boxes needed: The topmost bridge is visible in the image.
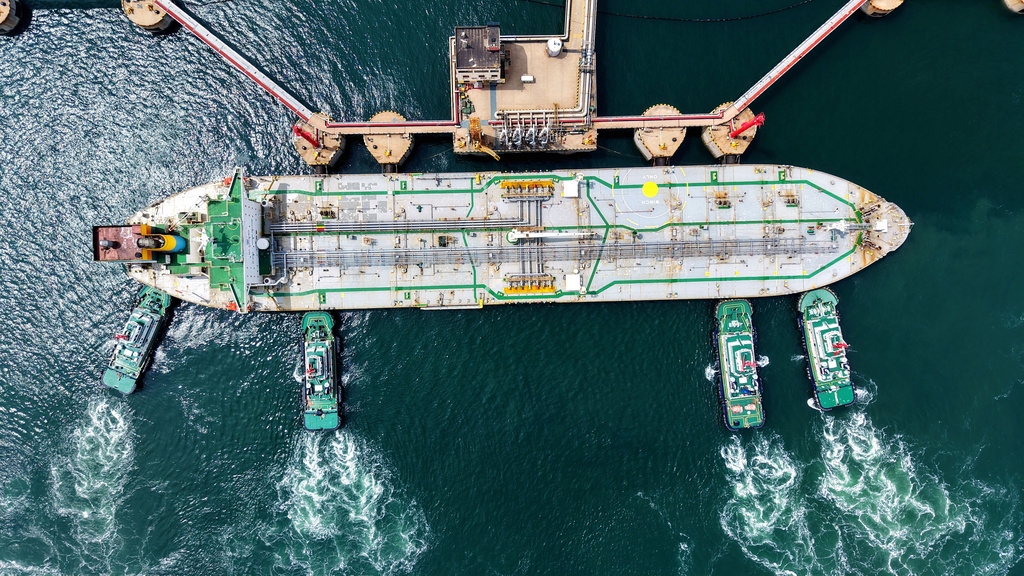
[566,0,598,37]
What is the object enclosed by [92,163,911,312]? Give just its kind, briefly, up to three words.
ship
